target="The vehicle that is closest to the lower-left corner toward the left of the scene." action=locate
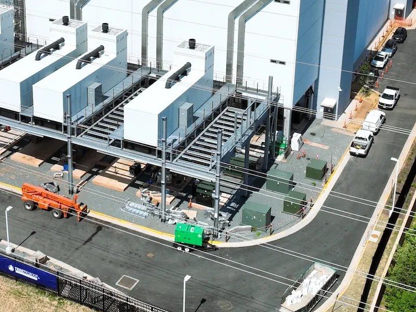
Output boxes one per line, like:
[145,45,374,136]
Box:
[22,185,93,225]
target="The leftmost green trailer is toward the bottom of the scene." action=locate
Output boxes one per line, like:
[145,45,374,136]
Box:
[172,218,230,251]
